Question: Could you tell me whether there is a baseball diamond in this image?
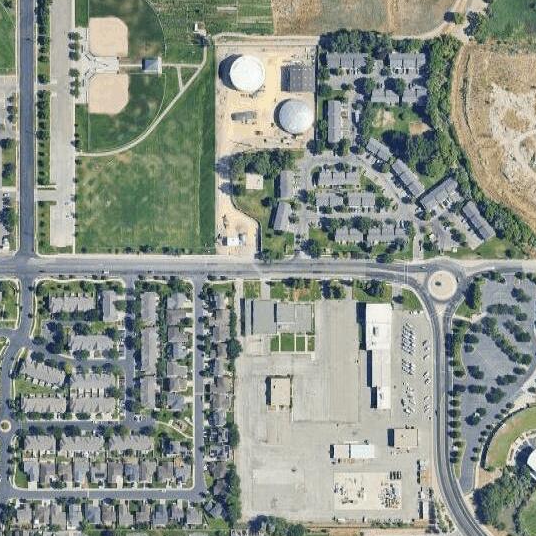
Yes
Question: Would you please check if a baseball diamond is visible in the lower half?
No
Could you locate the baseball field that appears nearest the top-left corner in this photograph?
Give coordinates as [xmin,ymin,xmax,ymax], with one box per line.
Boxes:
[82,15,129,59]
